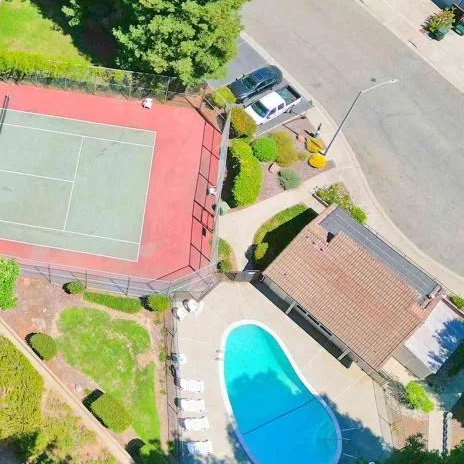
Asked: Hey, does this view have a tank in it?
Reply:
No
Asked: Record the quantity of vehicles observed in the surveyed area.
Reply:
2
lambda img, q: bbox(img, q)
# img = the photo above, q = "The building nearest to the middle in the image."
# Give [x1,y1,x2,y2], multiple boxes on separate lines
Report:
[262,199,443,369]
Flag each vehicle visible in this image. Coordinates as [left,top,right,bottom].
[246,76,309,124]
[224,65,282,102]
